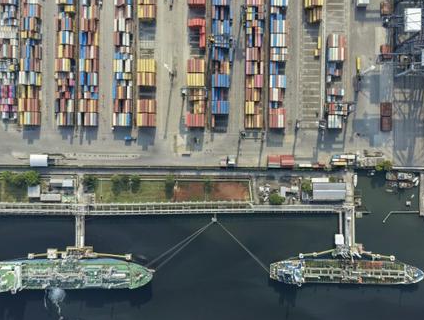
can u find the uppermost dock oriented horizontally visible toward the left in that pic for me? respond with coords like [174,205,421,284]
[0,201,264,216]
